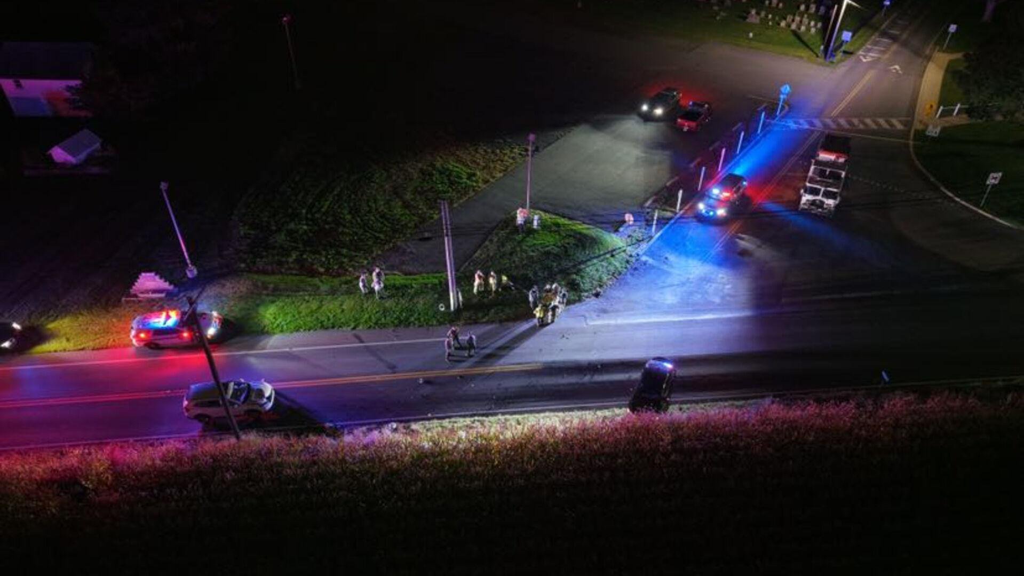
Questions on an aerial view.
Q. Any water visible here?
No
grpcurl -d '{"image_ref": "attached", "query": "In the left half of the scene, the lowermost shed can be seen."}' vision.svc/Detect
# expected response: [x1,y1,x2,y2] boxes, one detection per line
[46,130,107,169]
